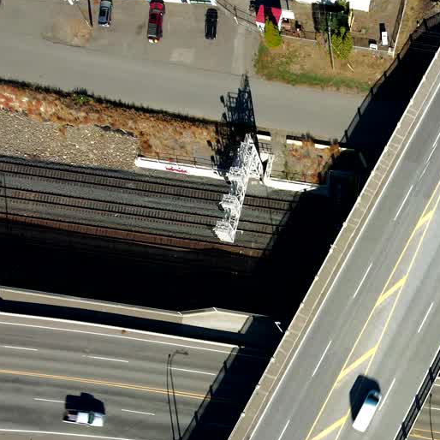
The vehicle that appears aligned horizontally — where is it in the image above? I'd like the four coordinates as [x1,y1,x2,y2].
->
[61,409,107,426]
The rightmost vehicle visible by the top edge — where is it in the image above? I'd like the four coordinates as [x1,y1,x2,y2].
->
[203,9,219,41]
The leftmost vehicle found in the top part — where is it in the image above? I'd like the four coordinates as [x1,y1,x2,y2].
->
[97,0,113,27]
